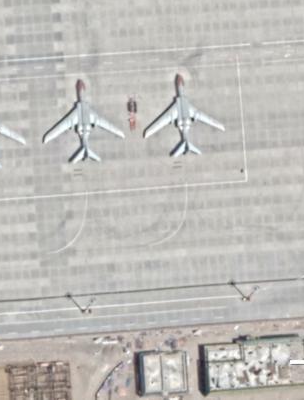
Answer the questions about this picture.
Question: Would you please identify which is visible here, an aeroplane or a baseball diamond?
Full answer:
Visible in the photo is an aeroplane.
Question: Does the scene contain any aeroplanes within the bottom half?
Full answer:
No, no aeroplane appears within the bottom half.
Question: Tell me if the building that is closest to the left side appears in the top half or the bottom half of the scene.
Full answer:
The bottom half of the photo is where the building that is closest to the left side is.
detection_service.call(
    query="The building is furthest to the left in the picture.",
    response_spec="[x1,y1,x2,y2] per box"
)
[139,351,189,400]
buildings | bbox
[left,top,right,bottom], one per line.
[201,338,304,396]
[139,351,189,400]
